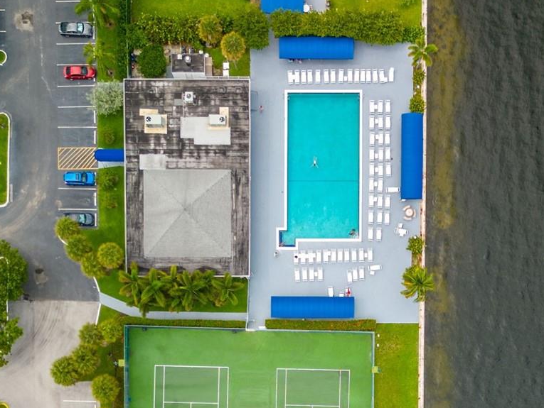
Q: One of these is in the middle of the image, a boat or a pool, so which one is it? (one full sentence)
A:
The feature located in the middle of the image is a pool.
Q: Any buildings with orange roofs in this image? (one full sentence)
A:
No, I find no building with an orange roof anywhere in the image.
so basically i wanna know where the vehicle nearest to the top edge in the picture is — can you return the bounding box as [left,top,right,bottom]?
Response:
[60,21,93,38]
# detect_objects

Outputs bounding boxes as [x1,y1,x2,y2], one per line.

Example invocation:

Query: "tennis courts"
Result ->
[153,365,229,408]
[275,368,351,408]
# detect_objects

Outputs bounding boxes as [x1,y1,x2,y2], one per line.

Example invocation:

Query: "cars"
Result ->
[61,213,94,227]
[63,64,97,81]
[60,21,93,38]
[64,171,97,186]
